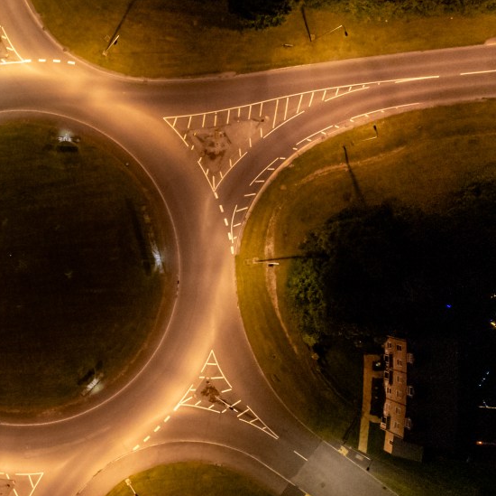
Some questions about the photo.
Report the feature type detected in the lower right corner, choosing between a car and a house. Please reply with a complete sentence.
The one visible in the lower right corner is a house.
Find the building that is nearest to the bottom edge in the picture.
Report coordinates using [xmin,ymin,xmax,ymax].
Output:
[381,434,424,463]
